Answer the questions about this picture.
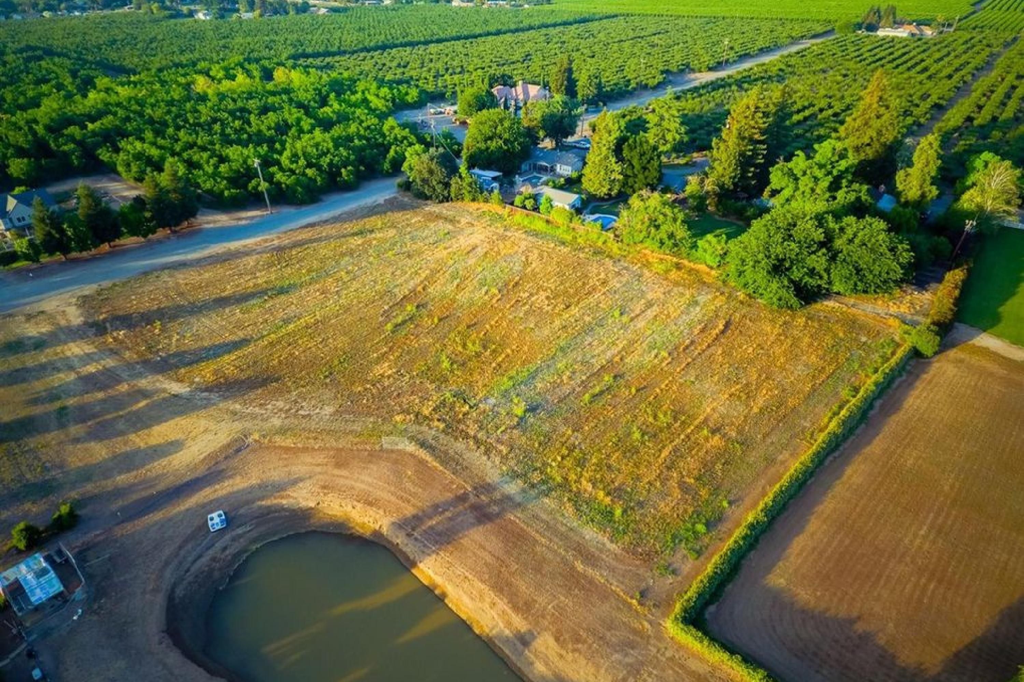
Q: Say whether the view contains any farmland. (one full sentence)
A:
Yes, farmland shows up in the scene.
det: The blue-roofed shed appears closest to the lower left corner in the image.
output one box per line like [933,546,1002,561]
[0,553,70,625]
